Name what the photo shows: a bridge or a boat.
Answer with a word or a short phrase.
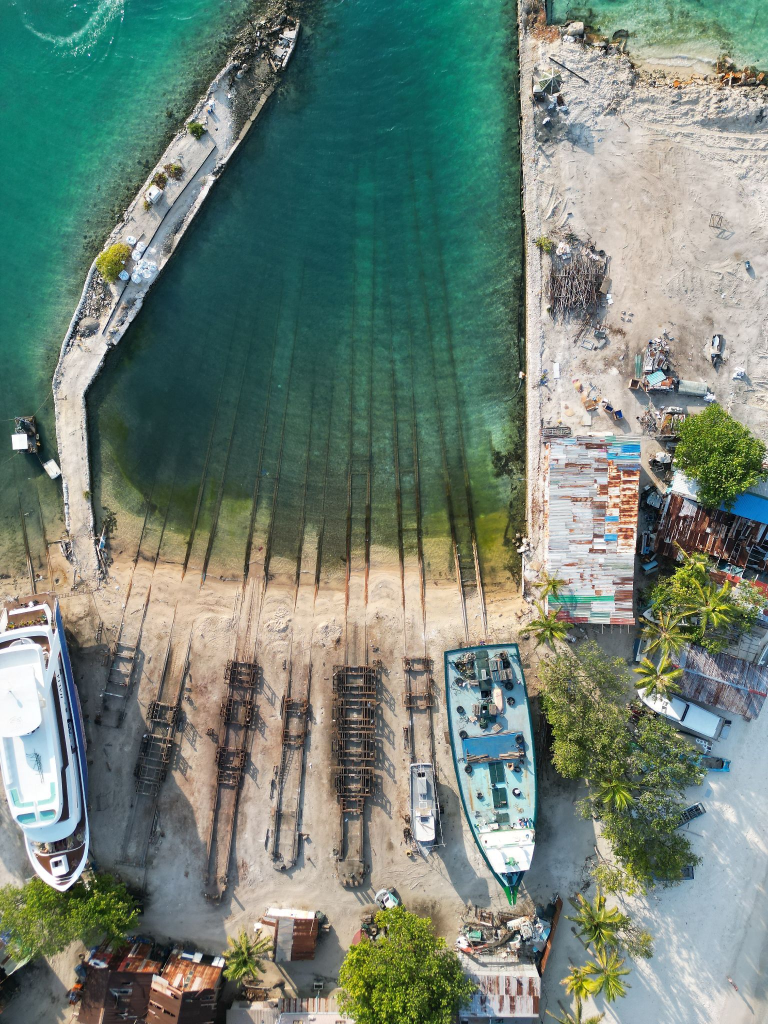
boat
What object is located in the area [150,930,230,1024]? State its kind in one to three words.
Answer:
house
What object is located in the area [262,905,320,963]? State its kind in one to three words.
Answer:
shed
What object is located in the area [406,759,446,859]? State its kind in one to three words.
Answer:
boat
